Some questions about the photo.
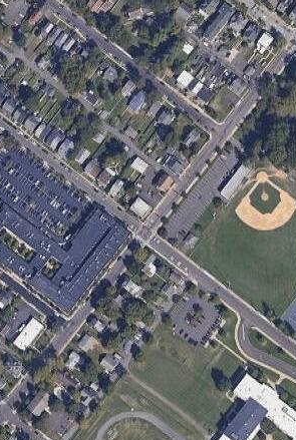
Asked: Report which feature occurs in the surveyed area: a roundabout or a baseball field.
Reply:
baseball field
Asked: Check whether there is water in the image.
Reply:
No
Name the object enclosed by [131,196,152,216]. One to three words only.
house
